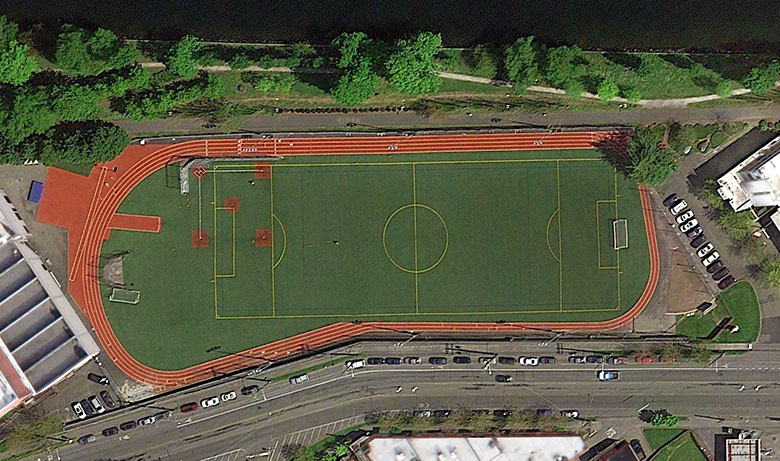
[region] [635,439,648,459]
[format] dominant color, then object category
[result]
black vehicle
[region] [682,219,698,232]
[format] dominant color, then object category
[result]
white vehicle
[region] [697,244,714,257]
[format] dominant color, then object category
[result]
white vehicle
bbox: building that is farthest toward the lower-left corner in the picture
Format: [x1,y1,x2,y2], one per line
[0,242,100,419]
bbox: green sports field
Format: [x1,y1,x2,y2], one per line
[99,149,650,371]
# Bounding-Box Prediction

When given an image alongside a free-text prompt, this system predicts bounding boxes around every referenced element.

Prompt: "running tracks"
[37,131,660,394]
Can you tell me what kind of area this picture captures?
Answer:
sports ground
